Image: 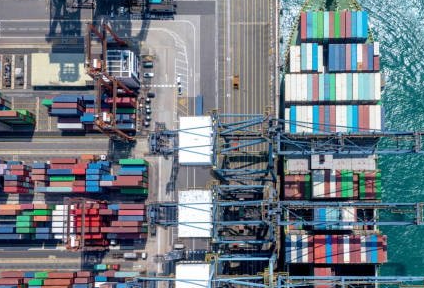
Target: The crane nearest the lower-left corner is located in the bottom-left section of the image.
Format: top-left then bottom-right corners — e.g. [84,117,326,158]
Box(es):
[62,195,108,253]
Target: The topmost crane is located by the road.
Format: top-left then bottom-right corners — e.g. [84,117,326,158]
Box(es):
[85,23,128,94]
